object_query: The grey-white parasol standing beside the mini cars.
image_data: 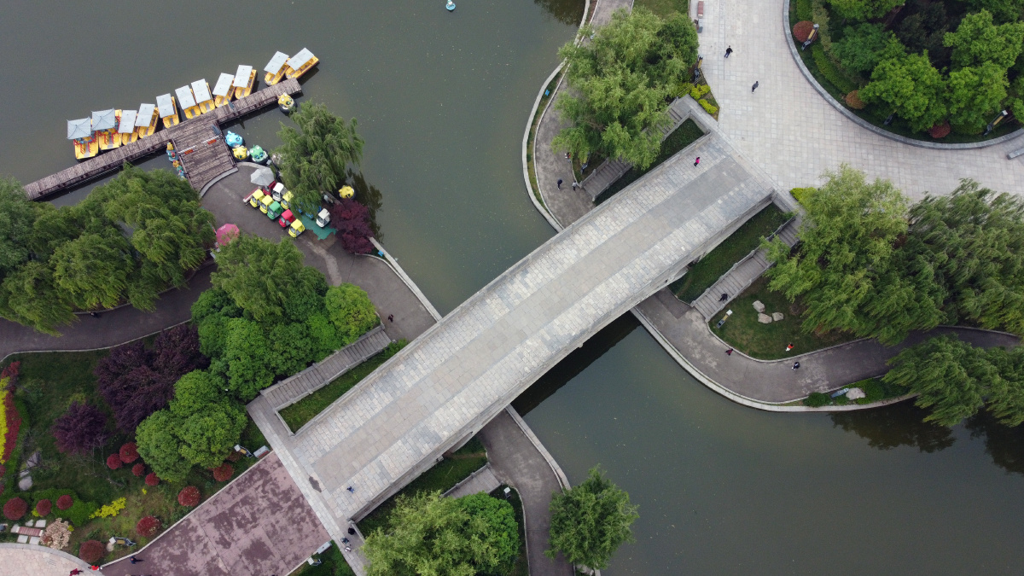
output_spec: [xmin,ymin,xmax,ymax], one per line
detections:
[252,165,277,187]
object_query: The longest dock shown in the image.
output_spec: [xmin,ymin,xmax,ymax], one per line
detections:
[24,78,300,198]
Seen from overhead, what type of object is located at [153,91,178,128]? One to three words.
boat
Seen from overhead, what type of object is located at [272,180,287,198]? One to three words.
car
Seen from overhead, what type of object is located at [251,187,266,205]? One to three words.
car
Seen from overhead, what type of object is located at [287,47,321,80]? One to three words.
boat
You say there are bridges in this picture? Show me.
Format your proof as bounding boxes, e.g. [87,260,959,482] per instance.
[293,130,774,521]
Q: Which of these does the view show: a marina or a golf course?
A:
marina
